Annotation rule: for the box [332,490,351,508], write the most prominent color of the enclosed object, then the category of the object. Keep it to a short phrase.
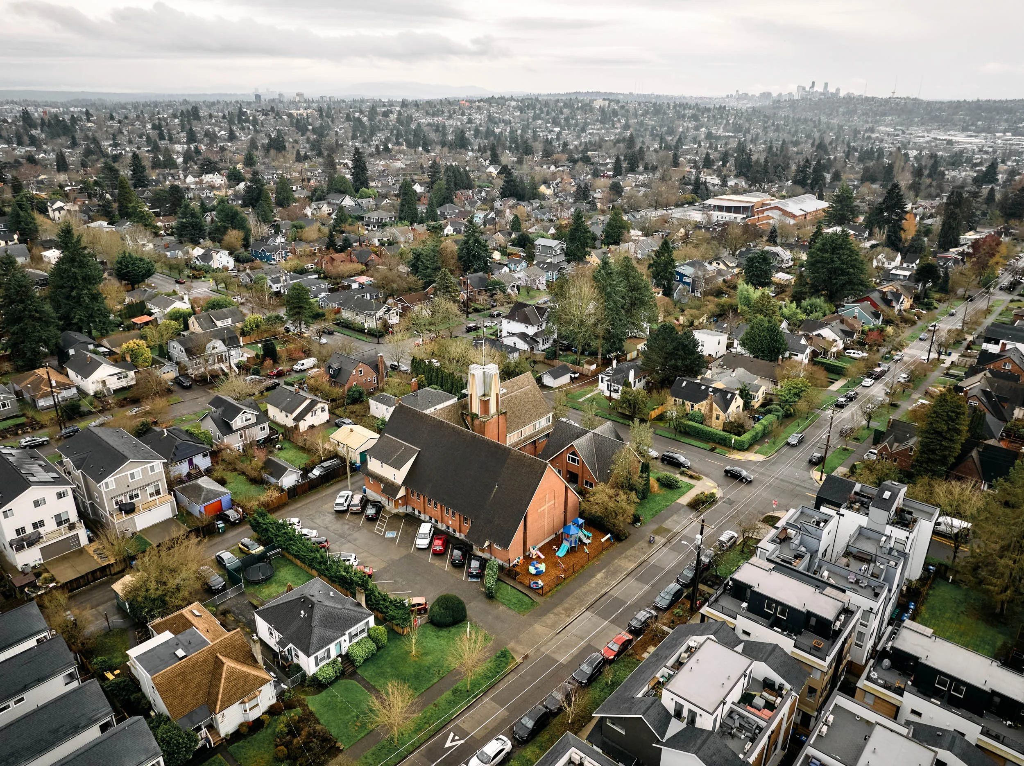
white car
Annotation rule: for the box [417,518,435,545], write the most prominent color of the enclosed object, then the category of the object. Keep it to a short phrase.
white car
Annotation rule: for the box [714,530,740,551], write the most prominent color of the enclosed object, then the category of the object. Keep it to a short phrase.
gray car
